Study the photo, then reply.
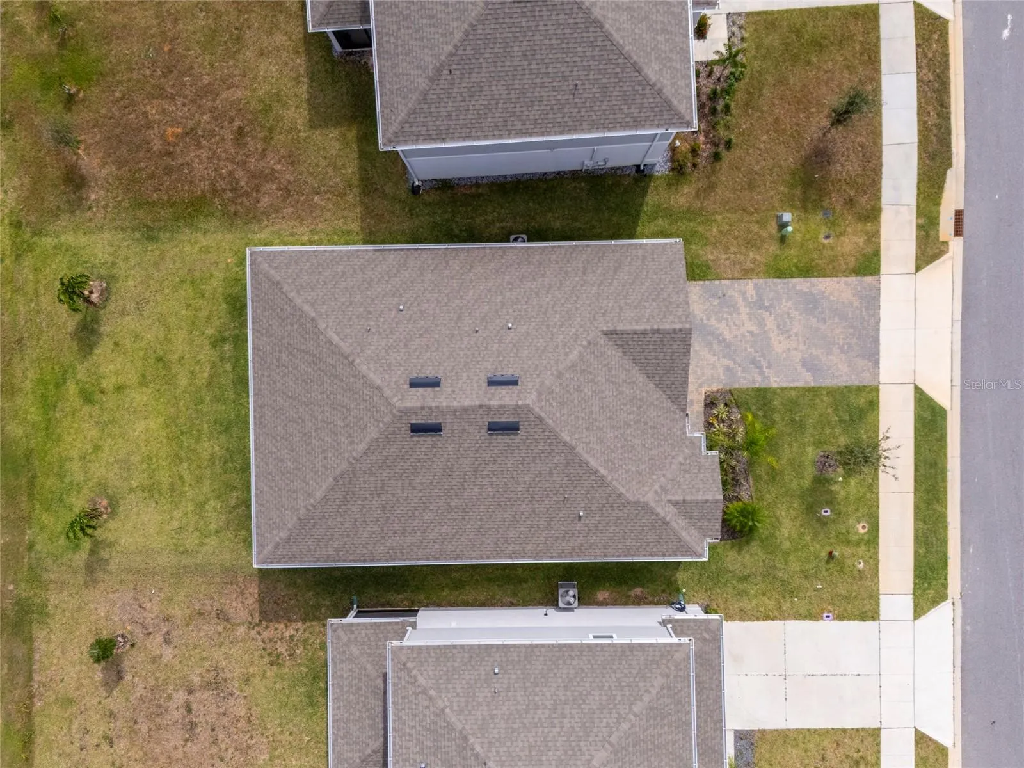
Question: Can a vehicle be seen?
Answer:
No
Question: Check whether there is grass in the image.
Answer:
Yes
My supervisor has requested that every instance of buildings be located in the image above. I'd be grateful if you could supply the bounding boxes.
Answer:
[247,240,723,567]
[327,601,726,768]
[305,0,718,182]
